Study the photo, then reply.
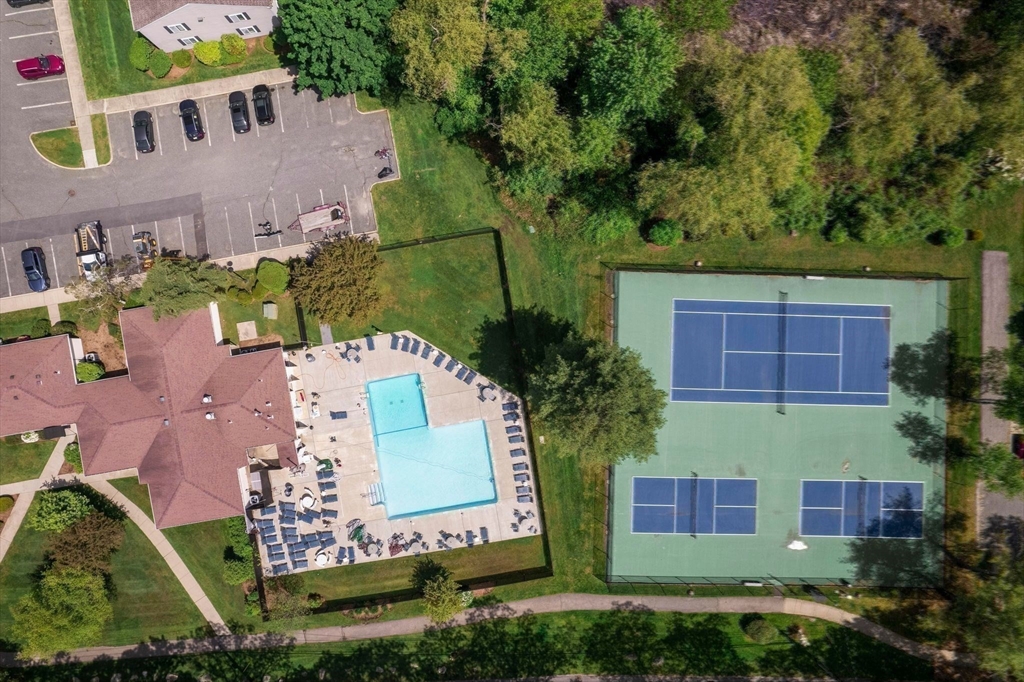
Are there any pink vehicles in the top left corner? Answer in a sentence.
Yes, I can see a pink vehicle in the top left corner.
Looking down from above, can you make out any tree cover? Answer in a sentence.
Yes, tree cover can be seen from above here.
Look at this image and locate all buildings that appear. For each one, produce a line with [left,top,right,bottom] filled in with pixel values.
[129,0,283,53]
[0,300,309,529]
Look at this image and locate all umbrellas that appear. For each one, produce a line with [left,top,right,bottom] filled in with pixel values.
[357,544,368,554]
[317,460,333,472]
[389,538,402,557]
[345,519,363,543]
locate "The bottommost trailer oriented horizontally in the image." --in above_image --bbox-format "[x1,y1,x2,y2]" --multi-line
[287,203,352,233]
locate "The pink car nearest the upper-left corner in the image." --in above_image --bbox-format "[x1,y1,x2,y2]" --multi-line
[18,55,65,81]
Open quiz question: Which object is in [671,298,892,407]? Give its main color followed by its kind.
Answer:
blue tennis court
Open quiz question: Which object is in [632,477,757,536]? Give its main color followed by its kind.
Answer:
blue sports court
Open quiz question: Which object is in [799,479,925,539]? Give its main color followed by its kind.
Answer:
blue sports court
